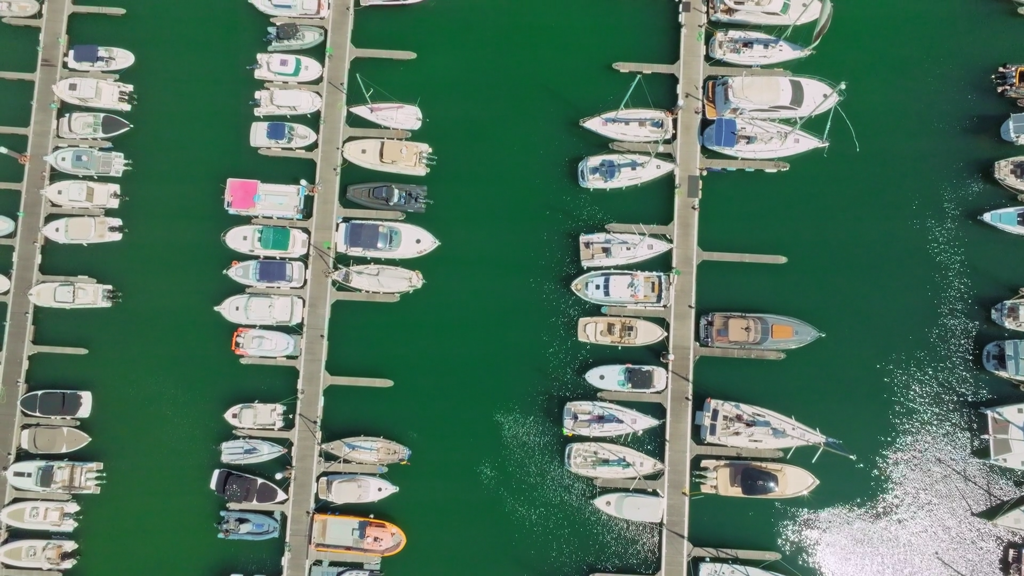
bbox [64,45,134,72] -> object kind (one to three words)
boat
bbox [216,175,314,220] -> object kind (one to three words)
ship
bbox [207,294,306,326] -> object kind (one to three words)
boat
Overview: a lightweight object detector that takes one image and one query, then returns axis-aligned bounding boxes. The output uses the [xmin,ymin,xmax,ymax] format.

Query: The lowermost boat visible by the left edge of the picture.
[0,539,90,568]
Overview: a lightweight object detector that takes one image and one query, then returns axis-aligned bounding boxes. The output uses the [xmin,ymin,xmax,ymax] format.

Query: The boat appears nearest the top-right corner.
[988,67,1024,97]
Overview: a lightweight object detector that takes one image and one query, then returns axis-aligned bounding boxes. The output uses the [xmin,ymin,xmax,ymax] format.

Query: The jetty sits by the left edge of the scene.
[0,0,129,576]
